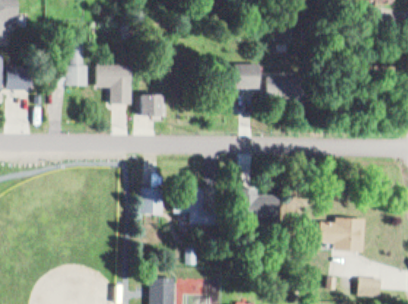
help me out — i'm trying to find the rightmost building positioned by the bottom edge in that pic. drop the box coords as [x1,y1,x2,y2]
[358,276,381,297]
